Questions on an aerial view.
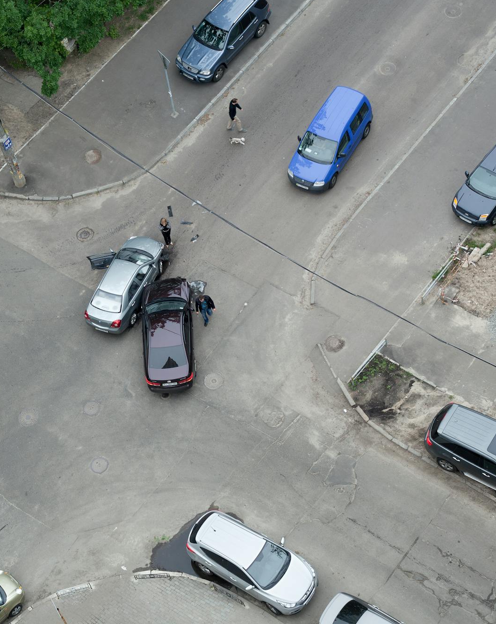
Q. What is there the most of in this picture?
paved ground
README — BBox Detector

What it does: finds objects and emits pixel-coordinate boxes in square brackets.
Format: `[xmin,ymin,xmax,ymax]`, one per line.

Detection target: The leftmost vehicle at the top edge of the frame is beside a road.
[174,0,270,83]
